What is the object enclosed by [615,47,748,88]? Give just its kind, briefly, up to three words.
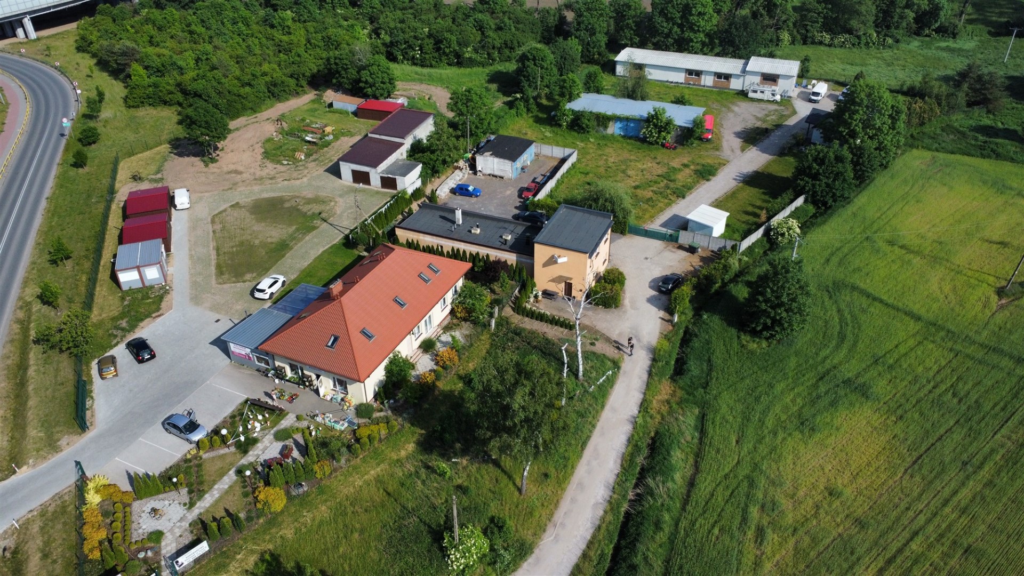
building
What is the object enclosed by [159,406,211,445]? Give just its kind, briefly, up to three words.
car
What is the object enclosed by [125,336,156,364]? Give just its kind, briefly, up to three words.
car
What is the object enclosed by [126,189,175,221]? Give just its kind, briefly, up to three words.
shed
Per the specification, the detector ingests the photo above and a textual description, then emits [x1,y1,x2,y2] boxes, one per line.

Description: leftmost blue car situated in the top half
[452,183,483,199]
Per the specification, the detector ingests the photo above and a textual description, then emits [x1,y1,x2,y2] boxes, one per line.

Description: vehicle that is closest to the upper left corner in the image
[174,190,191,209]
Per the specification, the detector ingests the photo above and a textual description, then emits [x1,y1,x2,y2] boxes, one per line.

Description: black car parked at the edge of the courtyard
[654,269,685,291]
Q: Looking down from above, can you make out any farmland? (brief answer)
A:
Yes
